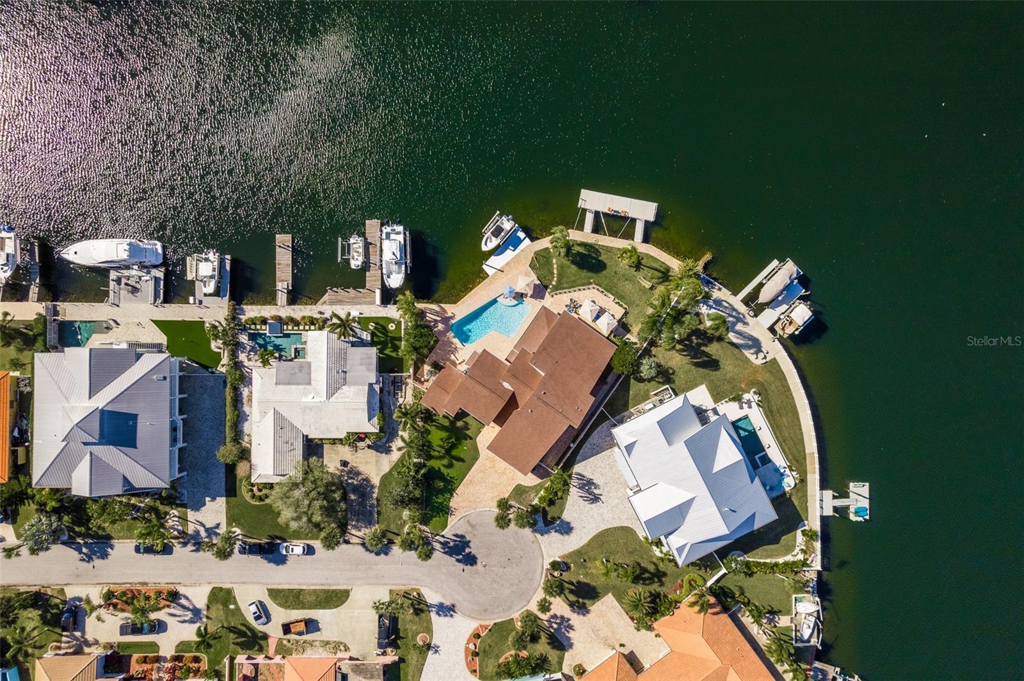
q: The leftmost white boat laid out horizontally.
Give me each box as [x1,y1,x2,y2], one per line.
[53,239,167,267]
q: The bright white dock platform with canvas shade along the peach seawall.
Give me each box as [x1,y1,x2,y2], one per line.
[483,224,532,275]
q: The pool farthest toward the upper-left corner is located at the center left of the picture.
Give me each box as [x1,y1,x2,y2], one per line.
[57,319,114,349]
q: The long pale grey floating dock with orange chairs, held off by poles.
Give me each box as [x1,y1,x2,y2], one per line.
[578,189,658,222]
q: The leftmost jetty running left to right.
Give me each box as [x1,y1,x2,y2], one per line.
[102,267,178,303]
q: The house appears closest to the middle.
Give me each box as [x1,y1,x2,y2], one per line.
[421,306,618,476]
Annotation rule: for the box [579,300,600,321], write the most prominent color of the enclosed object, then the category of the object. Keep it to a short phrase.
white umbrella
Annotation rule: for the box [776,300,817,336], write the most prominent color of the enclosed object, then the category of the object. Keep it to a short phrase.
white boat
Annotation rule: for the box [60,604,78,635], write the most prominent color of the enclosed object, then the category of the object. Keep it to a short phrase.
black car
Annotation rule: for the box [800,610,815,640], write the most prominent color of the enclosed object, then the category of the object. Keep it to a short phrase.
white boat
